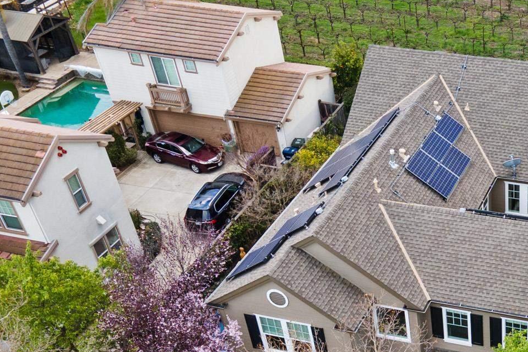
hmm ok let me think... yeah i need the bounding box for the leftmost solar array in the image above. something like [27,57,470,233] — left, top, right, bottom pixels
[228,201,323,279]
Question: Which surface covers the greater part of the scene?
buildings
